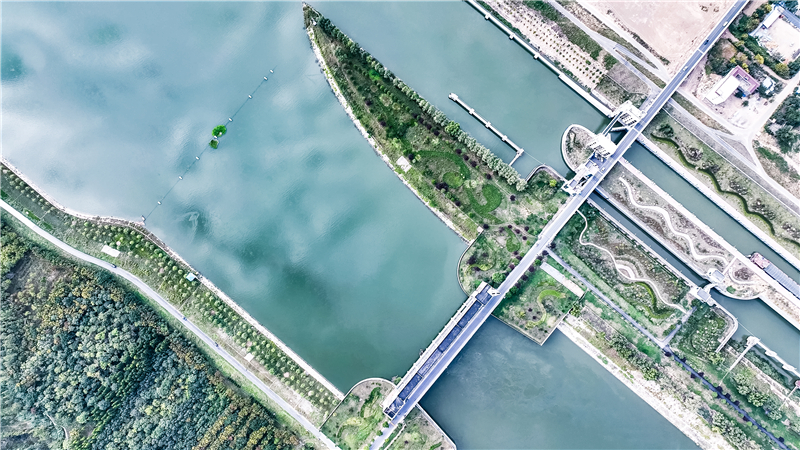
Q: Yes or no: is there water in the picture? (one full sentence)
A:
Yes, water can be seen from above here.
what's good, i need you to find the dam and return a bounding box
[380,284,493,420]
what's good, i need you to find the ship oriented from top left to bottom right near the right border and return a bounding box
[753,252,800,297]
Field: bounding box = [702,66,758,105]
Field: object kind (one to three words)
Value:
building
